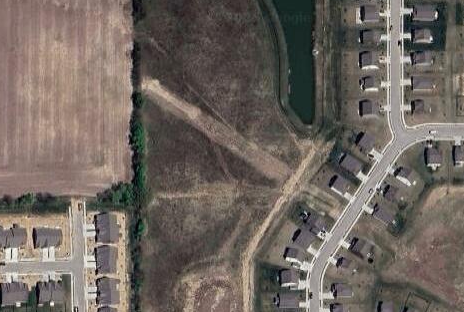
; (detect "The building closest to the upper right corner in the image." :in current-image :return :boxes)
[414,5,440,22]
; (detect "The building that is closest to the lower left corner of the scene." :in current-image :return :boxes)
[3,281,30,311]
